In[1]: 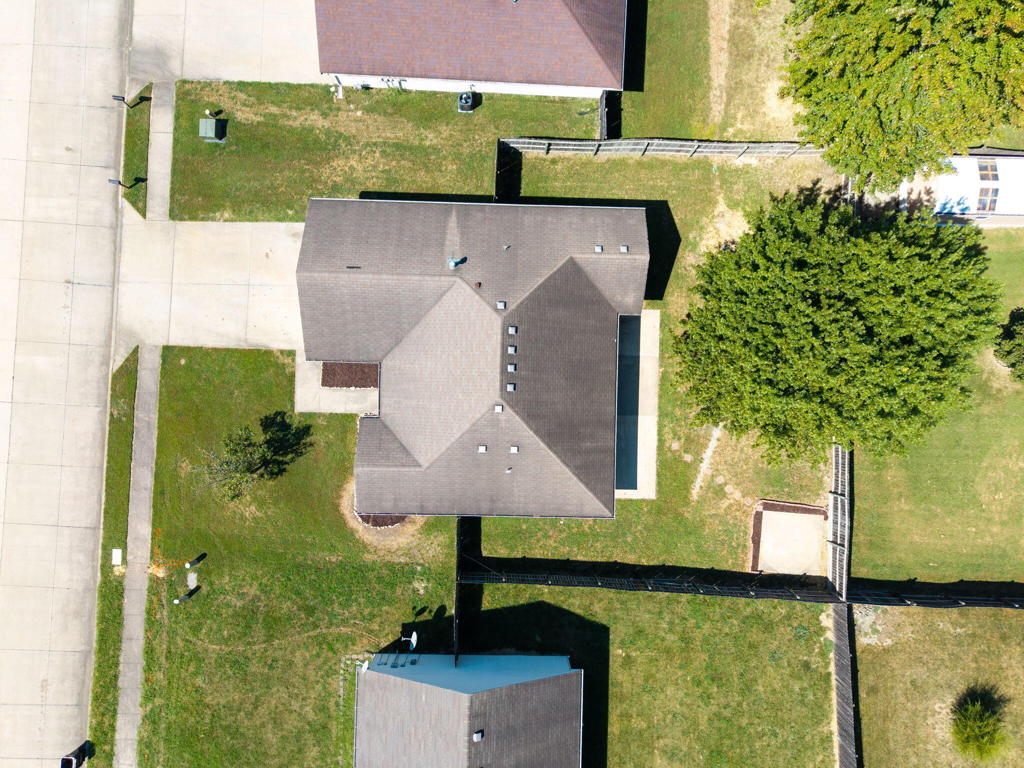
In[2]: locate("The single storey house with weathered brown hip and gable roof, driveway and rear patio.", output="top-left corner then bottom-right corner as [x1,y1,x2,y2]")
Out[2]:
[296,199,649,519]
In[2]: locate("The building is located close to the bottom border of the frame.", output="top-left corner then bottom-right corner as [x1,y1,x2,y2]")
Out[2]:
[353,651,583,768]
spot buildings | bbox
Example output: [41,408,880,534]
[315,0,627,98]
[900,157,1024,227]
[353,651,583,768]
[296,199,649,519]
